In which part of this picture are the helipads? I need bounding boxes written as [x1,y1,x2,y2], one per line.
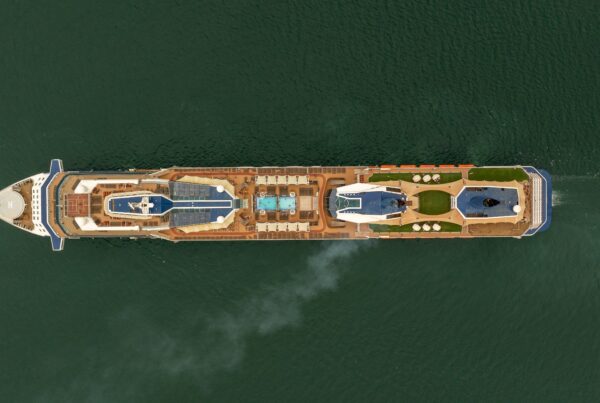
[0,190,25,218]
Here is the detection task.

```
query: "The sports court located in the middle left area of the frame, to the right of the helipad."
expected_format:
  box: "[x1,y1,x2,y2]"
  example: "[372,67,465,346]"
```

[63,193,90,217]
